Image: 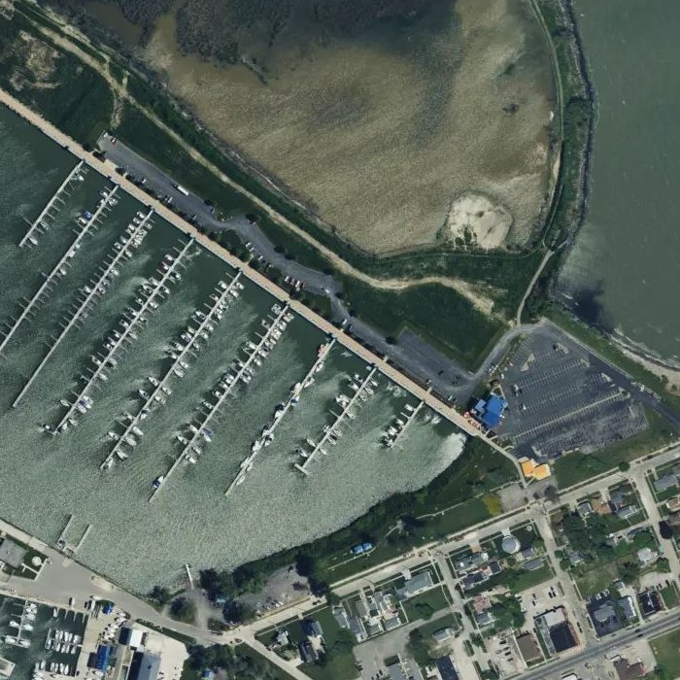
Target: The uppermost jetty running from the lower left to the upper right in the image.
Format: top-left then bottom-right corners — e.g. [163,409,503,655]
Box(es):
[19,159,85,246]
